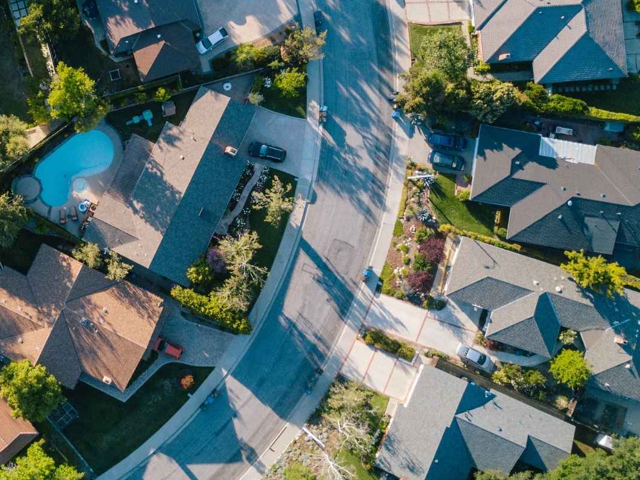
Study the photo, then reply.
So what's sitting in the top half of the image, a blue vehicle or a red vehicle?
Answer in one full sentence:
It is a blue vehicle that can be seen in the top half of the image.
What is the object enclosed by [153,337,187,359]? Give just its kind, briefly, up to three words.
car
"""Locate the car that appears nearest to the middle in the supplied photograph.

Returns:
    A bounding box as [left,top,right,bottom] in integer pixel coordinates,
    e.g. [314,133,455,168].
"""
[248,141,286,162]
